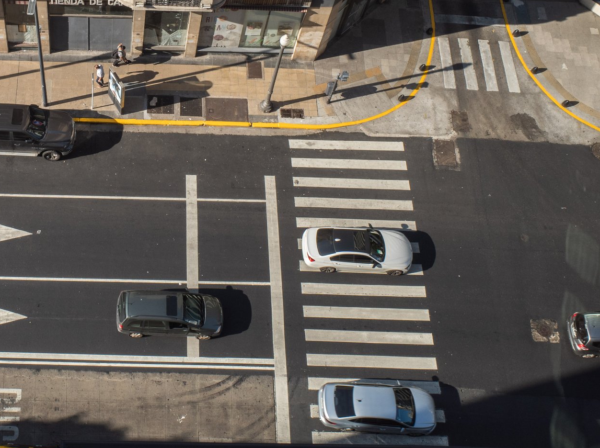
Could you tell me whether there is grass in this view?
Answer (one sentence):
No, there's no grass in this view.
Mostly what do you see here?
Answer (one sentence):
Most of the picture is covered by paved ground.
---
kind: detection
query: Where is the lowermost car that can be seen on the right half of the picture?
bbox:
[316,378,439,436]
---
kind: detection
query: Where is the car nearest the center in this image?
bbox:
[299,222,414,275]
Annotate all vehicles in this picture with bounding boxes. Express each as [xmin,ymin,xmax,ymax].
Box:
[0,99,78,158]
[561,311,600,359]
[299,222,414,275]
[116,287,225,339]
[316,378,439,436]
